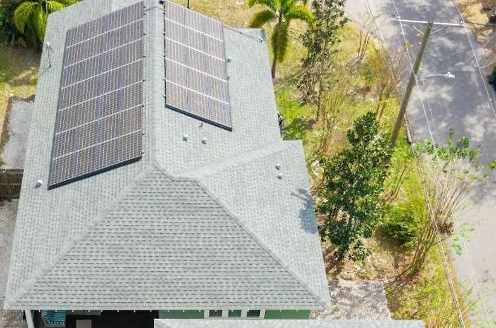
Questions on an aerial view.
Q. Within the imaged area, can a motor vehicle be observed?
No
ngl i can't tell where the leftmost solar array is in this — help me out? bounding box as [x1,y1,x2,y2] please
[47,1,147,191]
